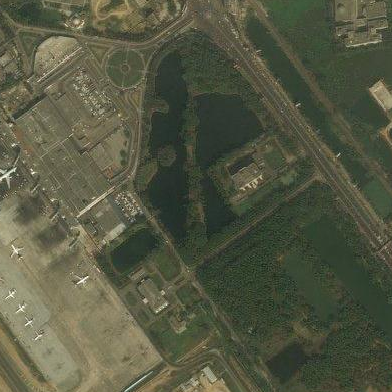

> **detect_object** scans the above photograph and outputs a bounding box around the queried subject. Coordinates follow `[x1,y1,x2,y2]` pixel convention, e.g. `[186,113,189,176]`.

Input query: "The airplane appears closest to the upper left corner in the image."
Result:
[0,167,17,188]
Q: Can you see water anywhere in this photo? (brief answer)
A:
Yes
